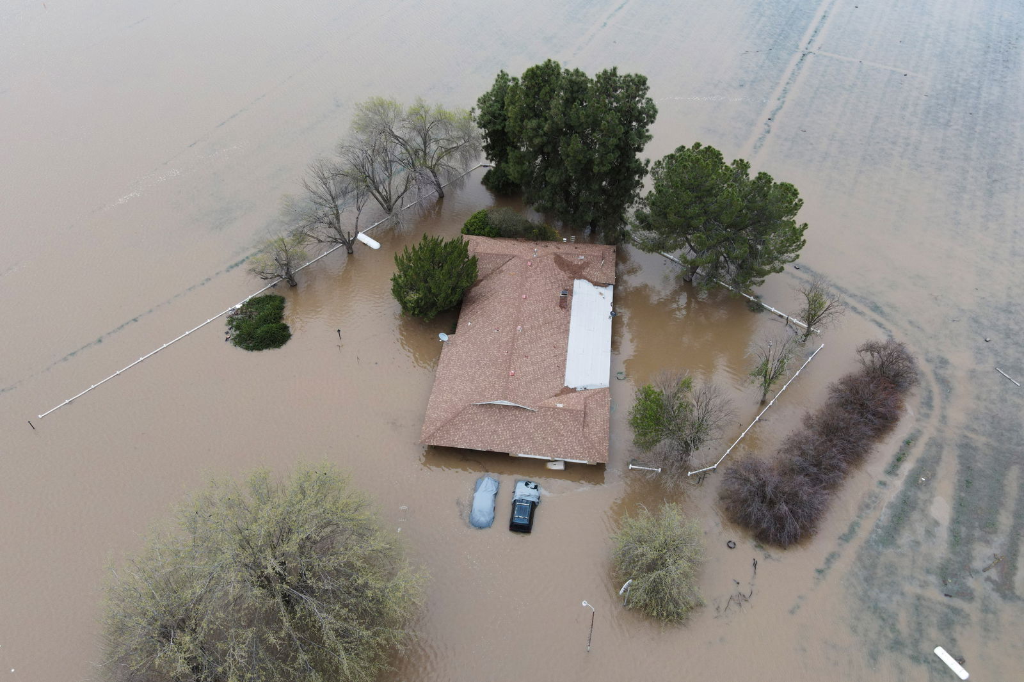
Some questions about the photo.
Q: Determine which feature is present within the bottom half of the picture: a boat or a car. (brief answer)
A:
car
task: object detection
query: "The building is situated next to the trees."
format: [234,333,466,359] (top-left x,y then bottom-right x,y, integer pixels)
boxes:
[420,234,617,467]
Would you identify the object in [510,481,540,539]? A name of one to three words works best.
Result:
car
